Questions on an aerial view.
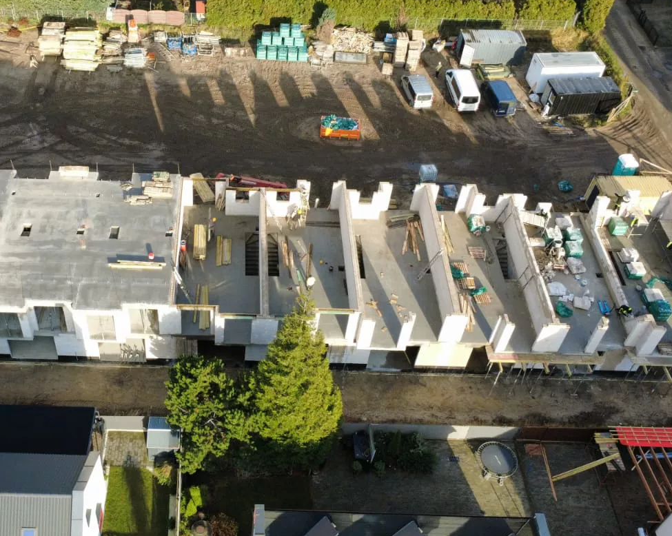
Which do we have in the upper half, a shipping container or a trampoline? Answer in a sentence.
You can see a shipping container in the upper half.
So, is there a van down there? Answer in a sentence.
Yes, looking at the shot, I can spot a van.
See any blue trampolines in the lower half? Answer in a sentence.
No, there is no blue trampoline in the lower half.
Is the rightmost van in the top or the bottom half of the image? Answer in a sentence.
Seen from above, the rightmost van lies in the top half of the view.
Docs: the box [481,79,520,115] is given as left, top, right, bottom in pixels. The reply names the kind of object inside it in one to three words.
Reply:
van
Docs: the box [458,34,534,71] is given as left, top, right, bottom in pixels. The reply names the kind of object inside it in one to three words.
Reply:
shipping container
